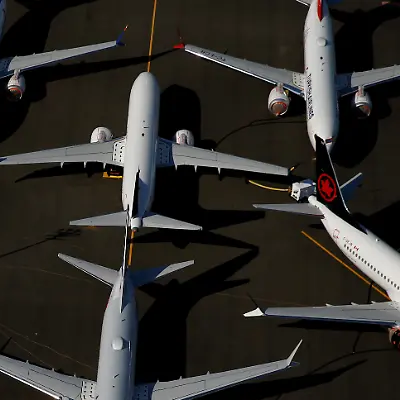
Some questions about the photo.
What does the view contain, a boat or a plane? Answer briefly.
plane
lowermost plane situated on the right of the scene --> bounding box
[244,136,400,352]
